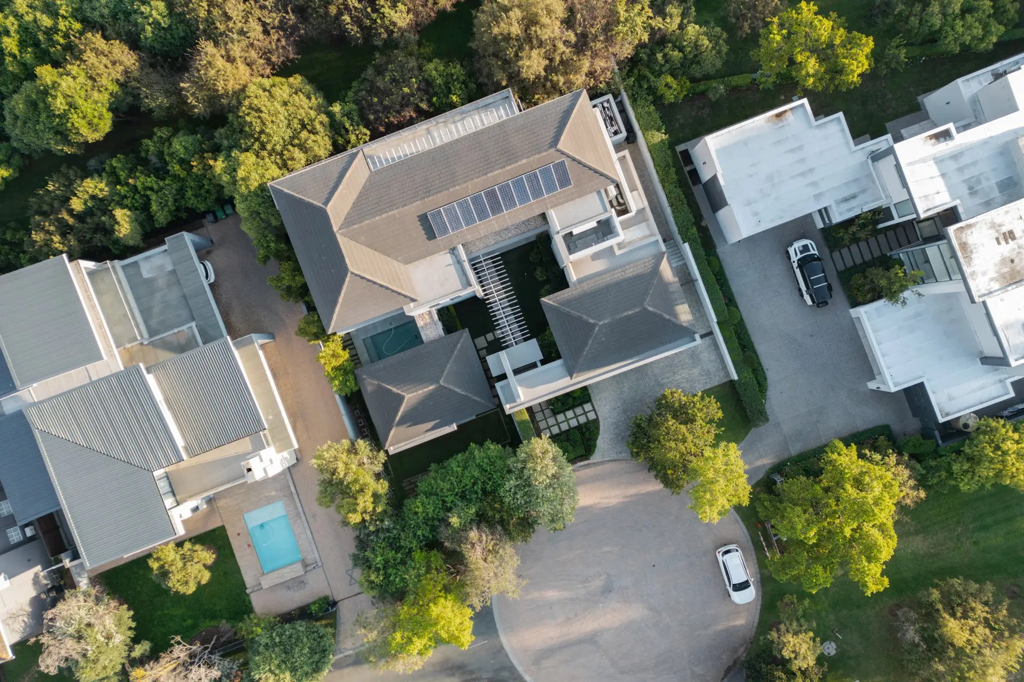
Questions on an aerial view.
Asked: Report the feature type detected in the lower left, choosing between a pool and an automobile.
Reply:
pool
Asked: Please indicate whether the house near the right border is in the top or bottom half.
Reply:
top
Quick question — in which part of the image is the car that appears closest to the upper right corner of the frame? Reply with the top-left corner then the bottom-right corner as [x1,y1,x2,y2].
[786,239,834,307]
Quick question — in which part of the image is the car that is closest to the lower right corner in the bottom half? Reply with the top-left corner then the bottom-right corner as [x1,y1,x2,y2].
[715,543,754,605]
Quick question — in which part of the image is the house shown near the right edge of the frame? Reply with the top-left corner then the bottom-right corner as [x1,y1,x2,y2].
[679,53,1024,423]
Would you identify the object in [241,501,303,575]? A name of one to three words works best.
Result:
swimming pool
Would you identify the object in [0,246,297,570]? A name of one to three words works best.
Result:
house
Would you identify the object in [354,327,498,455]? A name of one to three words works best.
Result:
building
